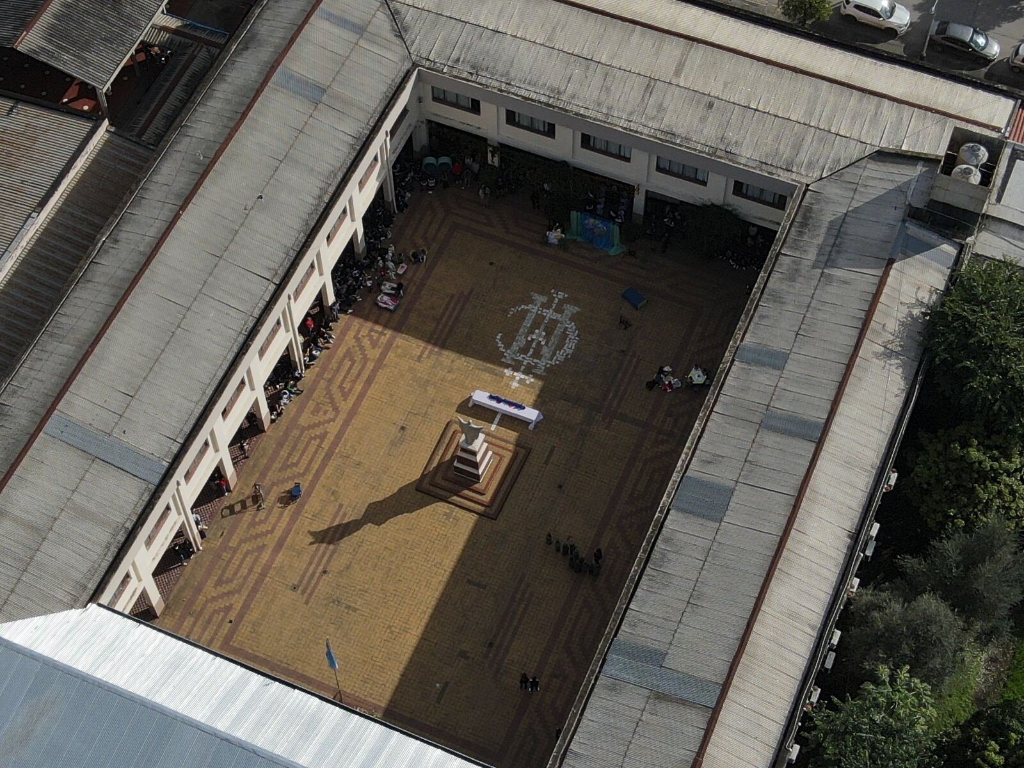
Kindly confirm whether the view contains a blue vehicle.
No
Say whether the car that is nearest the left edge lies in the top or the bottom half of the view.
top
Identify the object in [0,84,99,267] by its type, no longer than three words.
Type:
building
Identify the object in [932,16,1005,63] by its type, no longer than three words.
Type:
car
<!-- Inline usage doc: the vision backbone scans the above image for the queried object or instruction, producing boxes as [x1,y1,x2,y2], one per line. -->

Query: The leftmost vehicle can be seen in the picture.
[843,0,918,37]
